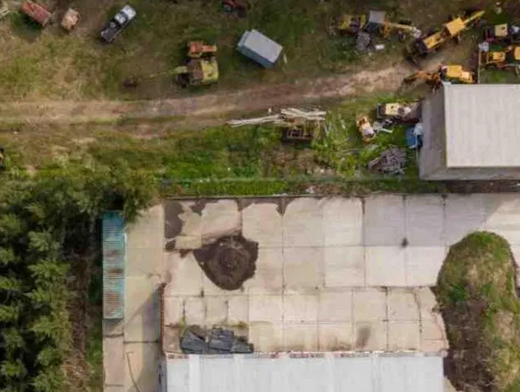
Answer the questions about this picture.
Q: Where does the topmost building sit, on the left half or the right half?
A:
right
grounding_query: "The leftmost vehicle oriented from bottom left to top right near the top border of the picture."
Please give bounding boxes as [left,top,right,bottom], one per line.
[97,0,137,43]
